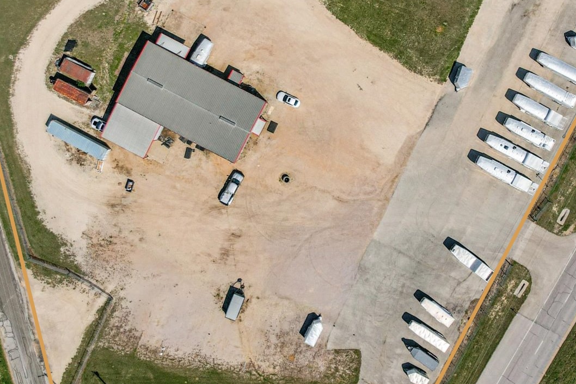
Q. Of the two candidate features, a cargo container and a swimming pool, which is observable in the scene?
cargo container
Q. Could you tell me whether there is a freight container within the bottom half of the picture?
No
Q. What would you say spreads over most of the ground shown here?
paved ground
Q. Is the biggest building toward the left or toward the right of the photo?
left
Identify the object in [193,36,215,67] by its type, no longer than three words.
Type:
vehicle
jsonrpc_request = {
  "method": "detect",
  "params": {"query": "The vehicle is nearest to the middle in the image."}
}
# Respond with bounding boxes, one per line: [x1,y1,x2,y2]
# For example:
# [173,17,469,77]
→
[221,171,242,206]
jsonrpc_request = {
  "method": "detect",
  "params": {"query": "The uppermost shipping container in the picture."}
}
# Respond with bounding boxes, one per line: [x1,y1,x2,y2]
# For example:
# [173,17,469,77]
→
[59,59,98,85]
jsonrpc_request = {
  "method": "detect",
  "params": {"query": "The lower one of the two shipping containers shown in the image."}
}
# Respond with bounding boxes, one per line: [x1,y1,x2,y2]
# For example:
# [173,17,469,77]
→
[53,79,94,108]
